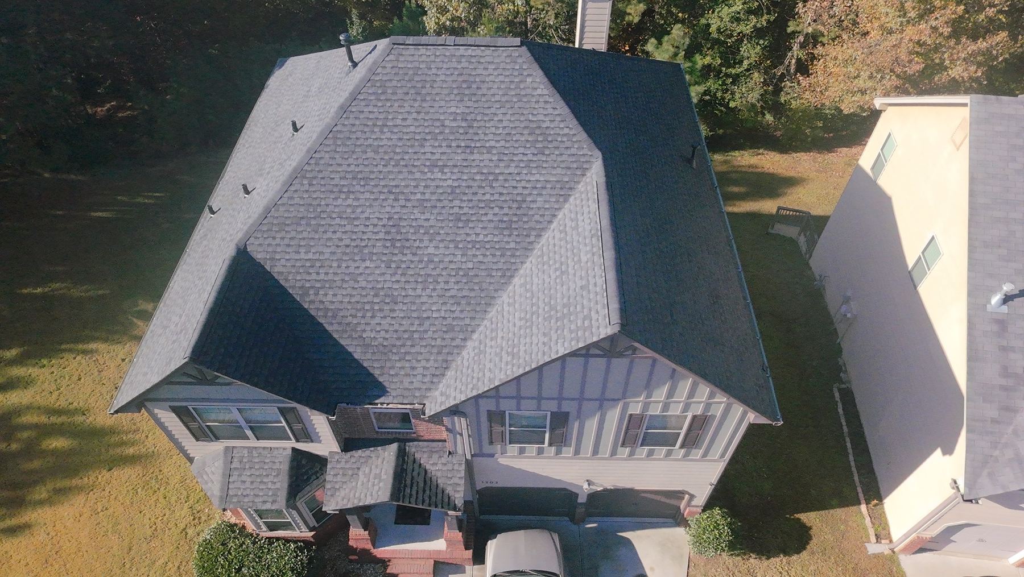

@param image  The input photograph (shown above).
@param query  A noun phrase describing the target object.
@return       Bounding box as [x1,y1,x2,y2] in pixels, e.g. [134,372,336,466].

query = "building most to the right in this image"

[811,100,1024,577]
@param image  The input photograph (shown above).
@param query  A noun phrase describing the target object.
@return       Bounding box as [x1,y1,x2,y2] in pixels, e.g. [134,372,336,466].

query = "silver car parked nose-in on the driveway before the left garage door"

[485,530,560,577]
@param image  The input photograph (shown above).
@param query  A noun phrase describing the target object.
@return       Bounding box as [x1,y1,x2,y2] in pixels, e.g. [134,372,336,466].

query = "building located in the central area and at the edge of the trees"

[107,0,785,577]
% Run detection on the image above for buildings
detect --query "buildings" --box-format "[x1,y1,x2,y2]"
[811,100,1024,577]
[107,0,785,577]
